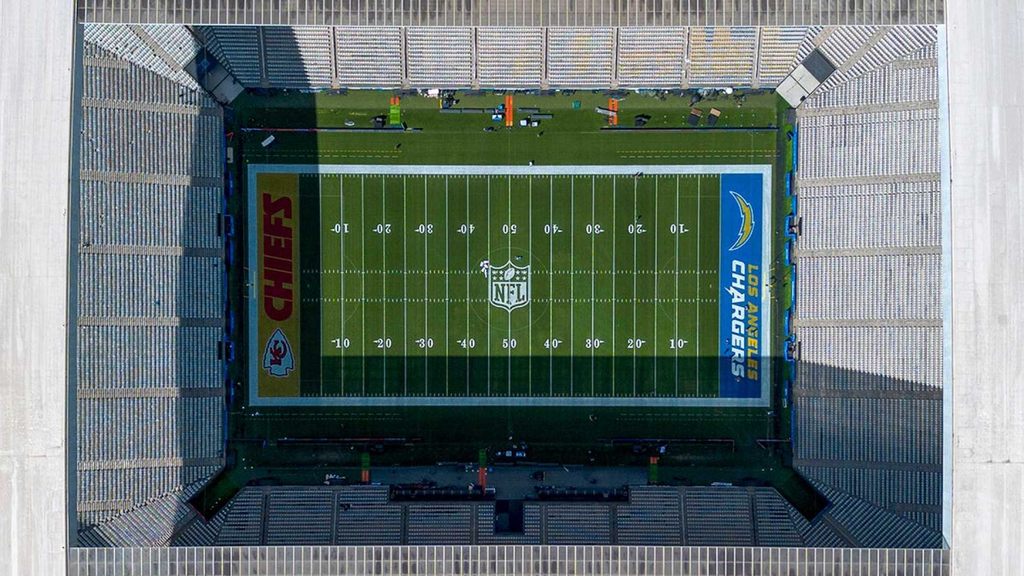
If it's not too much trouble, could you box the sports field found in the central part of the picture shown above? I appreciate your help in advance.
[207,75,812,499]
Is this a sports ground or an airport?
sports ground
